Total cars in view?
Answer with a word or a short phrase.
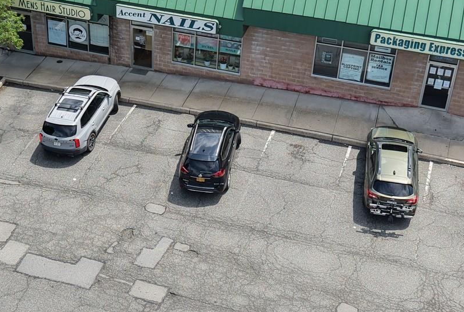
3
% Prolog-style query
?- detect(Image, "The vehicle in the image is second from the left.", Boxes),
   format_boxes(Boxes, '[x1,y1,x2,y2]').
[178,111,248,198]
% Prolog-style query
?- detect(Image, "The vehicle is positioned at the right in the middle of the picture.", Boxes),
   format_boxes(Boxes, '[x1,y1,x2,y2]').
[359,138,426,235]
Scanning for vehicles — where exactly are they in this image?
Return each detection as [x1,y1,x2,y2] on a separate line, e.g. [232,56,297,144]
[178,111,248,198]
[36,75,121,160]
[359,138,426,235]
